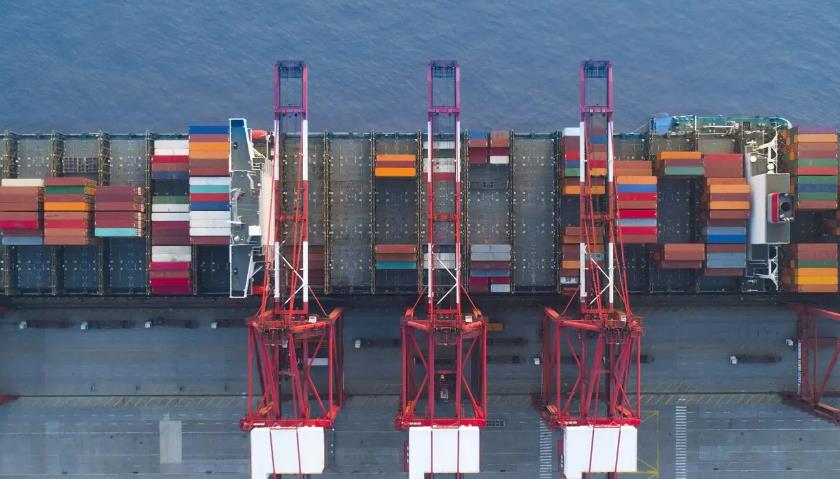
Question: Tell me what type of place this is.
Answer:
port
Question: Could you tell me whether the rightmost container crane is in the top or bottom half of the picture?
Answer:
bottom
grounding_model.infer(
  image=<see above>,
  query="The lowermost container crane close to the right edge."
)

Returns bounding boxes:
[781,305,840,422]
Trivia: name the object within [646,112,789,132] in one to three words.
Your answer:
ship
